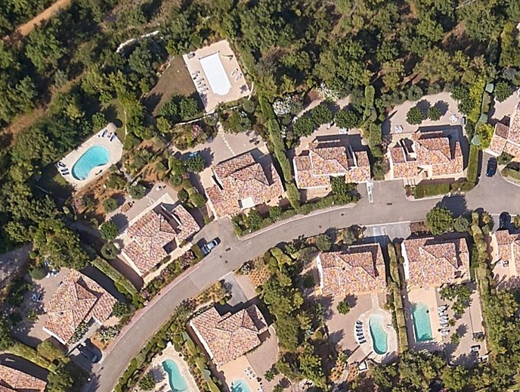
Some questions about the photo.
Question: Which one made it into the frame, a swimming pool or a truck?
swimming pool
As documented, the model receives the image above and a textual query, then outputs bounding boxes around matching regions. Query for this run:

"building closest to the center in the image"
[209,158,285,217]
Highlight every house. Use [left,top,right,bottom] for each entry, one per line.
[494,233,520,289]
[291,139,370,189]
[43,270,117,334]
[402,238,470,285]
[118,207,203,270]
[487,104,520,163]
[190,307,268,367]
[209,158,285,217]
[318,245,386,294]
[391,134,464,180]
